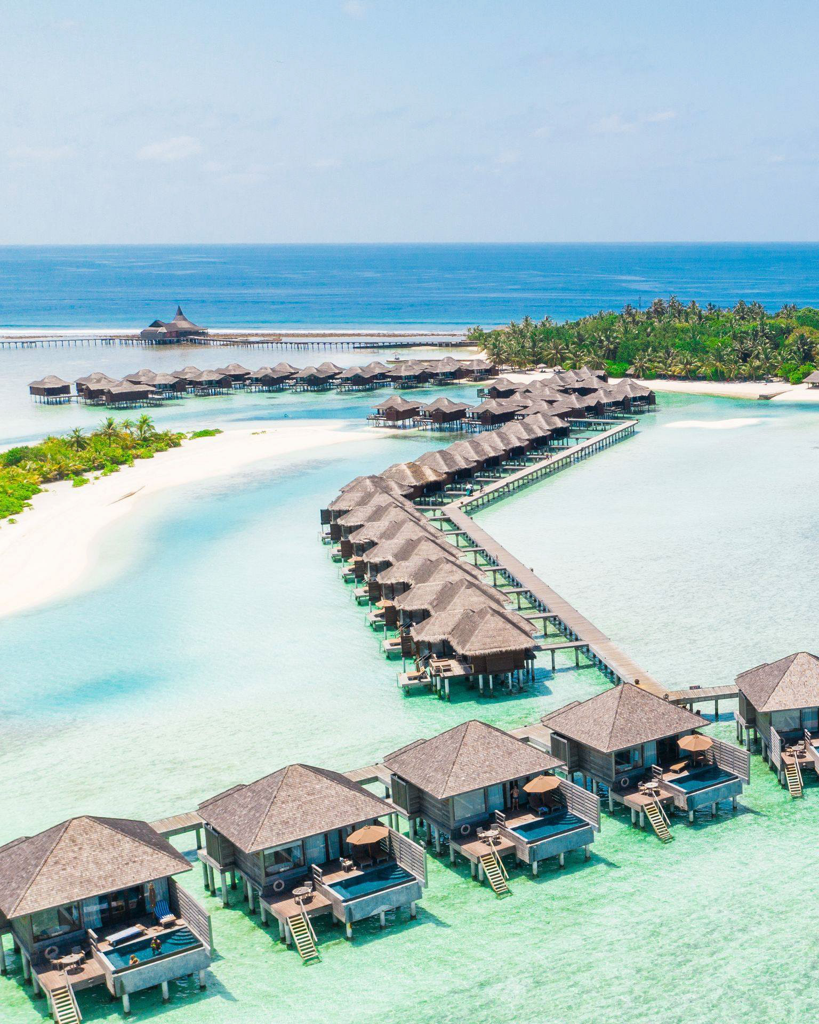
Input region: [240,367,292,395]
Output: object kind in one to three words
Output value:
house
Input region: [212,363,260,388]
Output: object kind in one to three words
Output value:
house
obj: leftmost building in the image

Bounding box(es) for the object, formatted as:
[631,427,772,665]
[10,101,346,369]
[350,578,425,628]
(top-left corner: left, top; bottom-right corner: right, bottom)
[31,375,86,403]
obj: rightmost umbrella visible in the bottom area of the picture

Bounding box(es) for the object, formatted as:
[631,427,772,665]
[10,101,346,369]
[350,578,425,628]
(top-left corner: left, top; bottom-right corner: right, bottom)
[674,732,713,752]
